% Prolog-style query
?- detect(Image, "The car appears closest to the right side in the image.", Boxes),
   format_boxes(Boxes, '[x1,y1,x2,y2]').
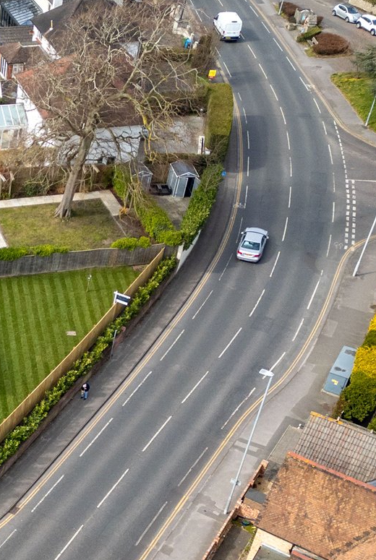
[352,12,376,36]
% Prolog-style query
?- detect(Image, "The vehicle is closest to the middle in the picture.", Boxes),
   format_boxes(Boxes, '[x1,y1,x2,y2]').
[236,229,269,265]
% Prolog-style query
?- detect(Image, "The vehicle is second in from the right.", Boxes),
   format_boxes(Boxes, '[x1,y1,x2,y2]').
[326,5,357,24]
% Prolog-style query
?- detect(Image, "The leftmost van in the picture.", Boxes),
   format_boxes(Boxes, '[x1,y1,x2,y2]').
[213,15,243,46]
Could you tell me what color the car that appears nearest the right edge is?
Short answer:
white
